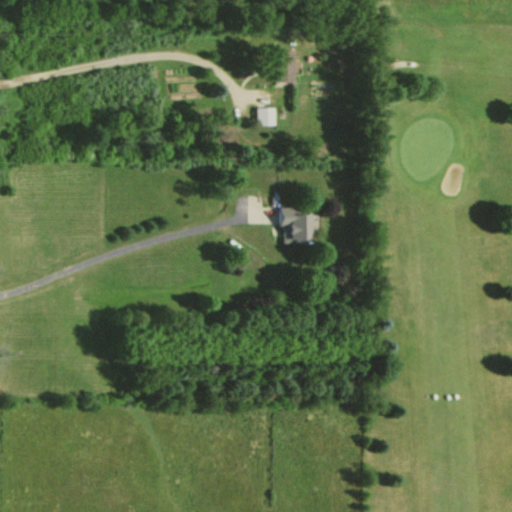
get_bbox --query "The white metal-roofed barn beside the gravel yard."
[258,107,277,126]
